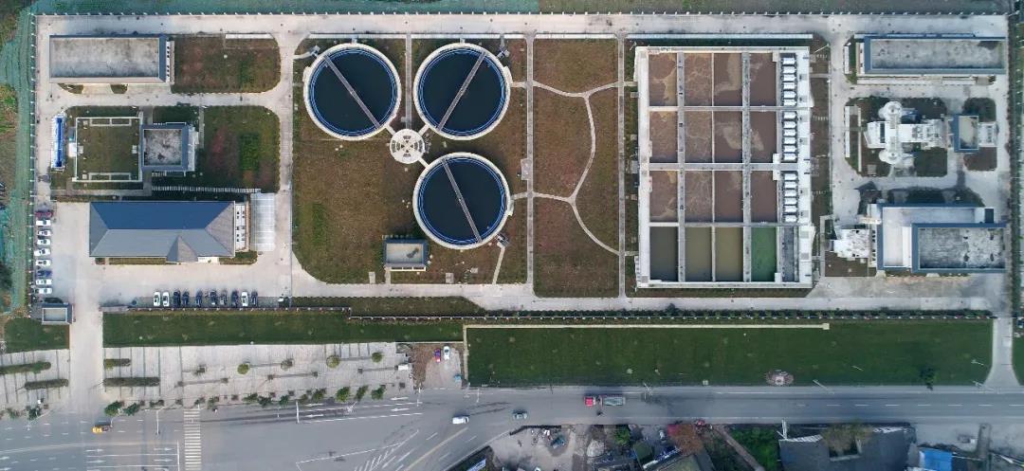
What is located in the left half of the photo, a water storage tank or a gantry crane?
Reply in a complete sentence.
The one visible in the left half of the photo is a water storage tank.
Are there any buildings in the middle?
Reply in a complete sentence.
Yes, there is a building in the middle.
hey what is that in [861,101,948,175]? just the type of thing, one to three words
building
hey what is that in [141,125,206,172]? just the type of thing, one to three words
building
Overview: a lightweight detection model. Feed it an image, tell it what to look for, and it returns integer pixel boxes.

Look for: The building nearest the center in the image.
[383,235,429,273]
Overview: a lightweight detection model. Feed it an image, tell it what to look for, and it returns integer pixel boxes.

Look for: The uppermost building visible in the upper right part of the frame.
[857,35,1006,84]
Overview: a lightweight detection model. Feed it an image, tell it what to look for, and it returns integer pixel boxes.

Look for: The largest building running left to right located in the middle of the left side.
[90,202,247,263]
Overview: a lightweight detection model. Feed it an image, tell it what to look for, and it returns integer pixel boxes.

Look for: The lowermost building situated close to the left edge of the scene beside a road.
[41,303,78,326]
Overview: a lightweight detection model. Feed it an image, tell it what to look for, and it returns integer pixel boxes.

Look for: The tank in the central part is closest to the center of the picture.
[413,152,514,250]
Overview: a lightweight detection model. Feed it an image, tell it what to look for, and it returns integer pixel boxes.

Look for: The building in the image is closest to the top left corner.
[50,34,178,84]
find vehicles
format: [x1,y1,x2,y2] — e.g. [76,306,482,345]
[43,295,60,302]
[171,291,180,306]
[36,239,51,245]
[209,291,217,306]
[512,412,528,420]
[91,425,110,433]
[33,220,51,227]
[194,291,202,306]
[35,279,51,286]
[34,260,50,267]
[35,288,51,295]
[180,291,189,306]
[586,397,627,407]
[35,213,52,220]
[33,248,49,256]
[160,291,169,306]
[230,291,238,306]
[240,291,247,306]
[250,291,257,306]
[443,345,450,361]
[434,348,440,363]
[36,230,51,236]
[151,291,160,306]
[452,417,468,425]
[219,291,227,306]
[35,270,51,277]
